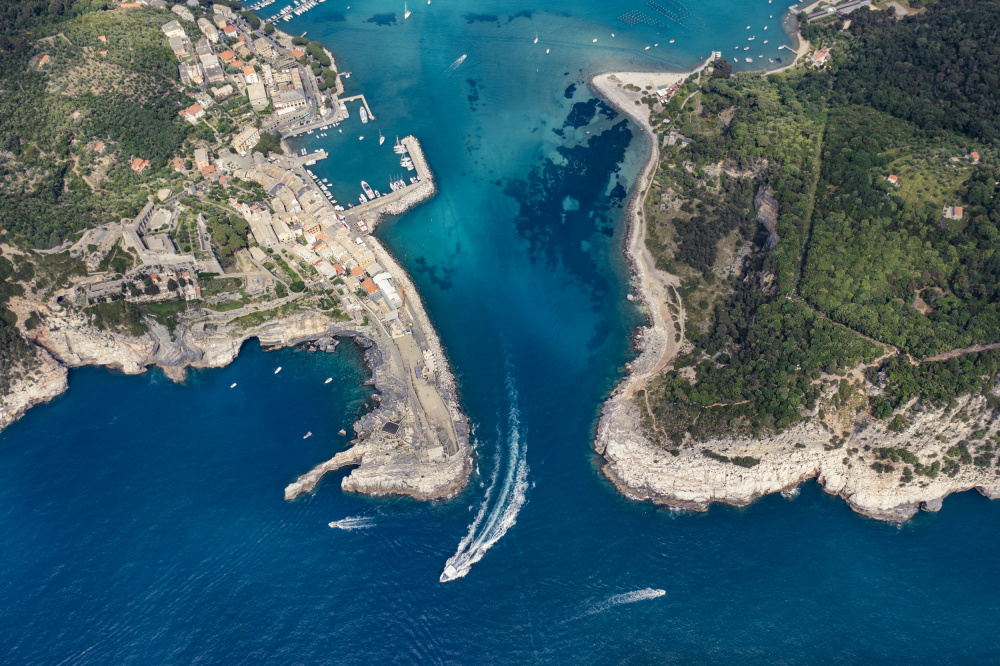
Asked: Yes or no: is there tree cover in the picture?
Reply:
Yes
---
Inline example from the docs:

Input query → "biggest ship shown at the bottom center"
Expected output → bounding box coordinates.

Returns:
[439,550,469,582]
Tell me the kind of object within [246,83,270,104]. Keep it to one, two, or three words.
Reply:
building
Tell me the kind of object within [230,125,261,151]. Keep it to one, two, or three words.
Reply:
building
